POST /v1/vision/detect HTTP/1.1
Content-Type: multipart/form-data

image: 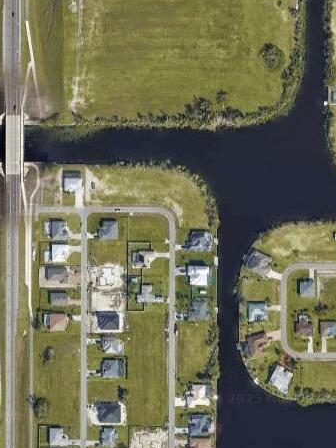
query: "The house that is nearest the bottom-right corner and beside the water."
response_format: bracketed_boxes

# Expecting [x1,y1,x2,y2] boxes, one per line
[267,364,295,393]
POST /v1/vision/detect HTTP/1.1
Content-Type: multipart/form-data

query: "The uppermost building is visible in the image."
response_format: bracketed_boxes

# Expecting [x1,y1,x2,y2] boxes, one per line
[63,172,82,192]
